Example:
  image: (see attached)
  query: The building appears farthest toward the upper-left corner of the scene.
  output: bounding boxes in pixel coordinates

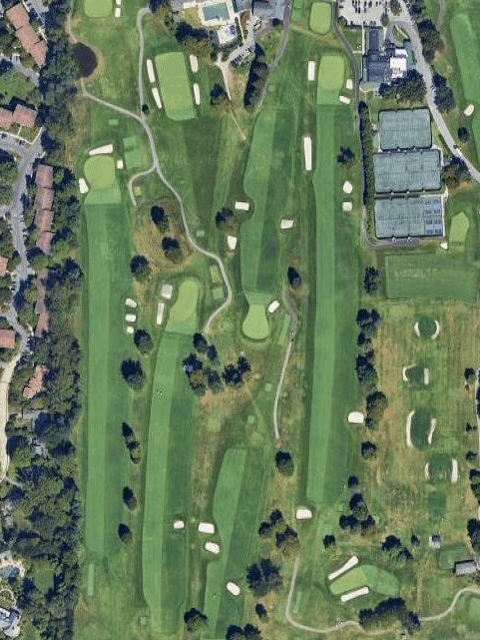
[5,3,47,67]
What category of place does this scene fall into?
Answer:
golf course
